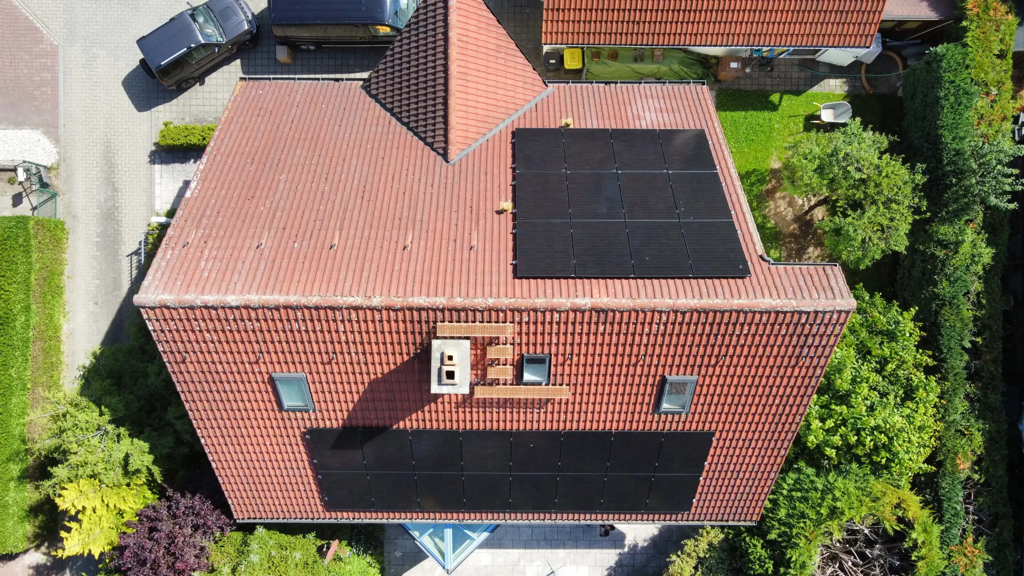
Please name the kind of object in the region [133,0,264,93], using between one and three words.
car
